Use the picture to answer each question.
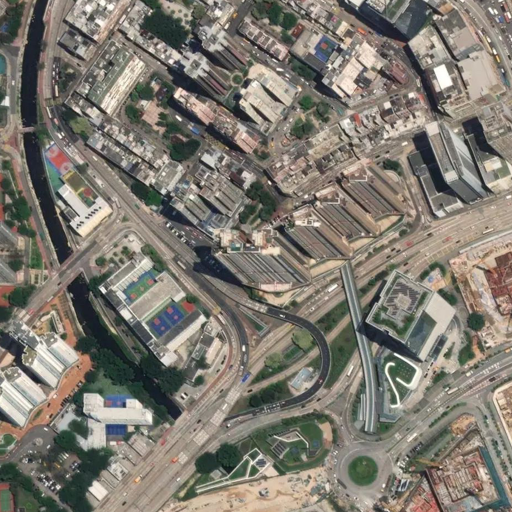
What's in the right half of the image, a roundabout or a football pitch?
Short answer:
roundabout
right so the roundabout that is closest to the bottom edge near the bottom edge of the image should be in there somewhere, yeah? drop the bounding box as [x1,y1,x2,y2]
[336,442,390,498]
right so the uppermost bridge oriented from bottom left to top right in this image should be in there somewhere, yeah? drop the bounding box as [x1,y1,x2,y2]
[34,250,89,308]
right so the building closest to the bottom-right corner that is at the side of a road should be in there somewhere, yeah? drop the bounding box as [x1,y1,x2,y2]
[434,447,498,512]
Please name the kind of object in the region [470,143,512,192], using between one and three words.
building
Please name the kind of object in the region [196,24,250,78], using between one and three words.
building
